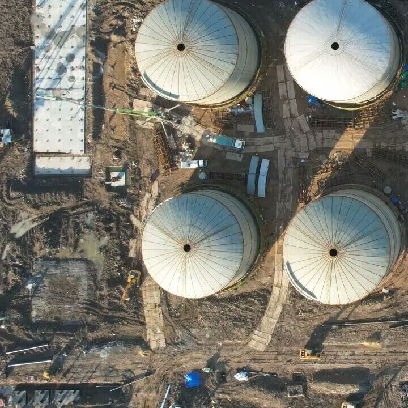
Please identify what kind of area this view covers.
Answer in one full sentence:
This image shows an industrial area.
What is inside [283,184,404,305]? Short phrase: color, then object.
white storage tank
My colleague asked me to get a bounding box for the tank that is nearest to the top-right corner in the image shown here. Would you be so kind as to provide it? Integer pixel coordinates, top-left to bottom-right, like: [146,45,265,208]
[284,0,404,105]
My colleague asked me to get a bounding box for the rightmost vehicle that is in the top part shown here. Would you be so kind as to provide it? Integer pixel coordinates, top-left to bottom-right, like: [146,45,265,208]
[208,135,245,152]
